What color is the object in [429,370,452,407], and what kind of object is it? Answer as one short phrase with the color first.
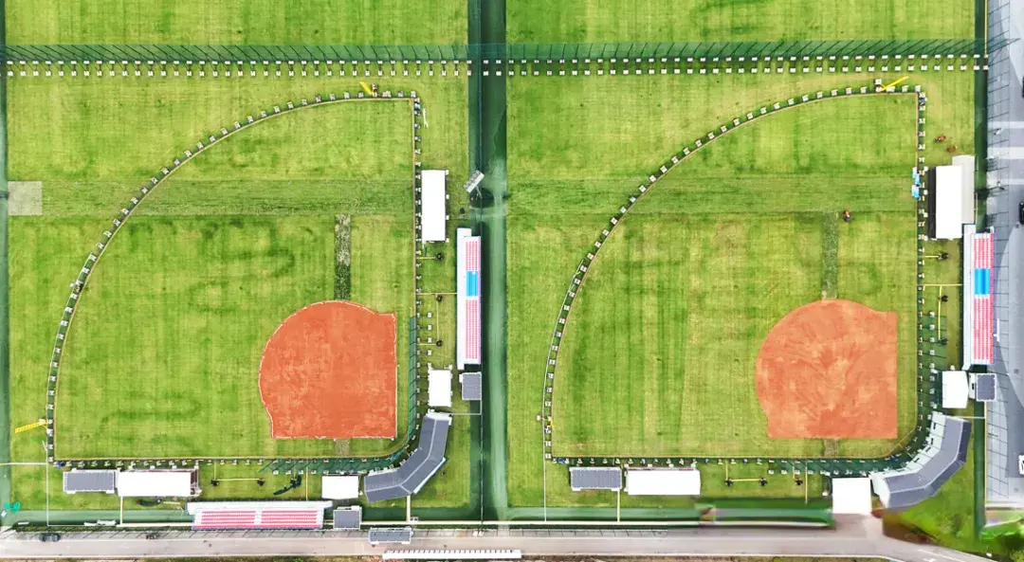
white tent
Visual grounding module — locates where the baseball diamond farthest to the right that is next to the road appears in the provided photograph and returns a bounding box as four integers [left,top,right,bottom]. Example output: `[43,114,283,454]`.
[552,93,917,457]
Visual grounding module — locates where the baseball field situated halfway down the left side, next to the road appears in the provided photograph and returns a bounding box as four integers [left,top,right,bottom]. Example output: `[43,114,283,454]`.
[55,98,414,458]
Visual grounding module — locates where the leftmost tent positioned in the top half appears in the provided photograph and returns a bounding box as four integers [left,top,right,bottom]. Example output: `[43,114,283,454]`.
[422,170,447,243]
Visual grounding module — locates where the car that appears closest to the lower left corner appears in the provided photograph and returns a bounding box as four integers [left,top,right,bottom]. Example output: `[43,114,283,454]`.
[36,533,59,545]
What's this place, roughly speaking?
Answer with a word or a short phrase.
sports ground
